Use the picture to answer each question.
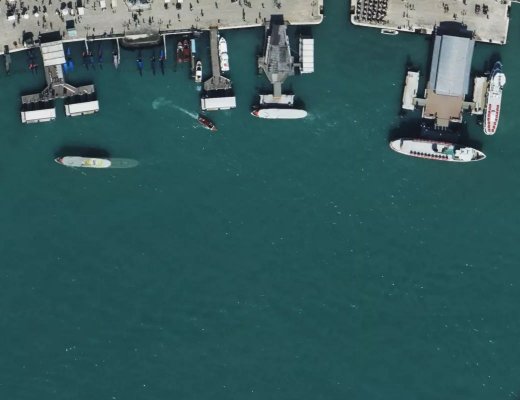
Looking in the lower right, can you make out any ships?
No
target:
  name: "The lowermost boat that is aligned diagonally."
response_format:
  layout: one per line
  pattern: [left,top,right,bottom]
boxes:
[198,117,217,130]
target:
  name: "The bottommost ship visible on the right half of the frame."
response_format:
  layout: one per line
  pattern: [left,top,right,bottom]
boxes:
[388,138,485,162]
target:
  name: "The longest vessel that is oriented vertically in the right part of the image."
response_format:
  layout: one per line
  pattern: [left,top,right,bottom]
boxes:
[483,61,505,135]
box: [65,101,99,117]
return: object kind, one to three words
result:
pier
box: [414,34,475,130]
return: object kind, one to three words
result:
pier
